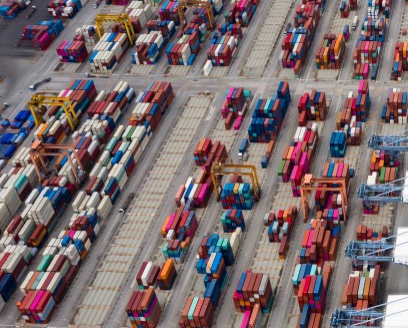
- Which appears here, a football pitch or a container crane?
container crane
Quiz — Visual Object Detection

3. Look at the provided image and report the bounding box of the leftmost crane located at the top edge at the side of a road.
[93,4,135,40]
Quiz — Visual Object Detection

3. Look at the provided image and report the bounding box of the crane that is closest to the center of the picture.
[209,153,260,200]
